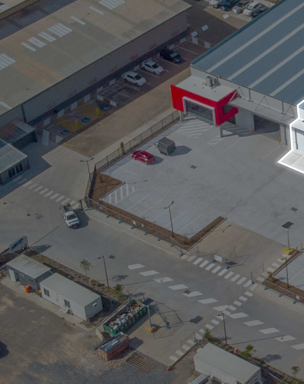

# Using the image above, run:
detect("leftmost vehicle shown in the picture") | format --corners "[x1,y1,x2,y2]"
[62,204,78,229]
